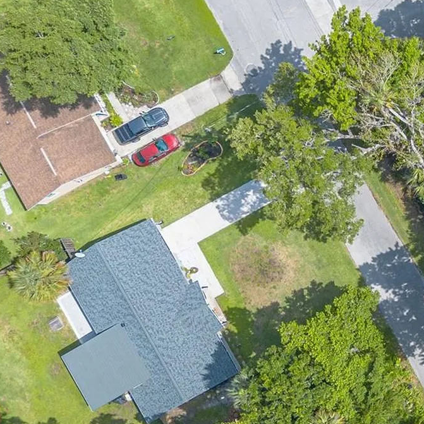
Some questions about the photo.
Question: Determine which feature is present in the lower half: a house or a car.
house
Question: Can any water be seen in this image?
No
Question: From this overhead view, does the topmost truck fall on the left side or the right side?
left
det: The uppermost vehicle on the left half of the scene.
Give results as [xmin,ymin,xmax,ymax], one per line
[107,102,175,150]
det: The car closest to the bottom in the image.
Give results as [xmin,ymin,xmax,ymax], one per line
[129,131,187,171]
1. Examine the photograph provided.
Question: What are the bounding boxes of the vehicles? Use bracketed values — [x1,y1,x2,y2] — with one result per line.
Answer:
[129,131,187,171]
[107,102,175,150]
